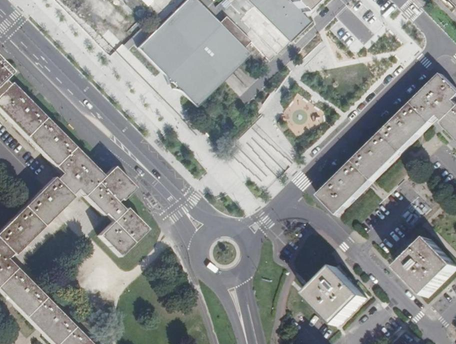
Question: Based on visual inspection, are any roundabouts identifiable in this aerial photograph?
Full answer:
Yes, a roundabout is visible in the scene.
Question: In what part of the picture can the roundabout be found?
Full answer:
The roundabout is located in the bottom region of the scene.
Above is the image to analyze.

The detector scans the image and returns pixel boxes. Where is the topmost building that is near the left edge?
[0,50,110,199]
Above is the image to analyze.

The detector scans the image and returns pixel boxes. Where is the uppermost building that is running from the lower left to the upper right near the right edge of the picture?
[314,73,456,217]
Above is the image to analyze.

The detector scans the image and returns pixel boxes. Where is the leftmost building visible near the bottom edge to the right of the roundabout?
[300,265,366,327]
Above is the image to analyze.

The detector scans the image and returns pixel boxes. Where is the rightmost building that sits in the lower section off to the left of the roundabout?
[86,167,158,258]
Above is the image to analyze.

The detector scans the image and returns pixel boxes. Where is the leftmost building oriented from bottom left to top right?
[0,178,83,257]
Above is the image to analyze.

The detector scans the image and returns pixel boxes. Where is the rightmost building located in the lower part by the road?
[390,236,456,299]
